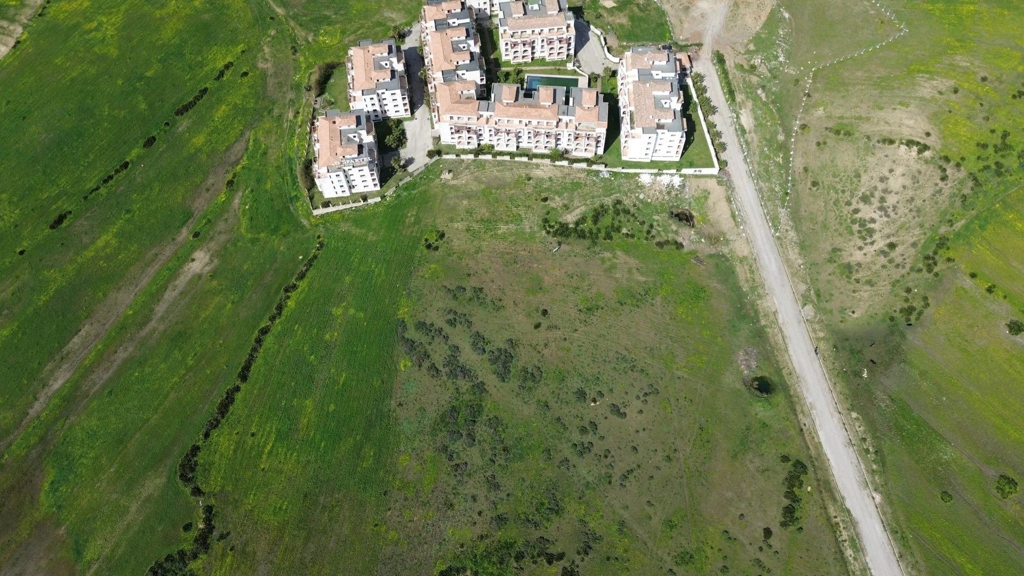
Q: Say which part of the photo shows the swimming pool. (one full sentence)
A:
You can find the swimming pool in the top area of the picture.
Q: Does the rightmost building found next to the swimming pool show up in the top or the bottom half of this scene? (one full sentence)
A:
Seen from above, the rightmost building found next to the swimming pool lies in the top half of the view.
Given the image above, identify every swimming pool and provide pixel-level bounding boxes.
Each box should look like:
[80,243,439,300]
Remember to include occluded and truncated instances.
[524,74,587,97]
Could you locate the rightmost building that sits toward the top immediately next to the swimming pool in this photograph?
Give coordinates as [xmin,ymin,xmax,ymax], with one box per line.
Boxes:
[616,36,685,161]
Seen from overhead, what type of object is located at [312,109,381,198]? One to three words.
building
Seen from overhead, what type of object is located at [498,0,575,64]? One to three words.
building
